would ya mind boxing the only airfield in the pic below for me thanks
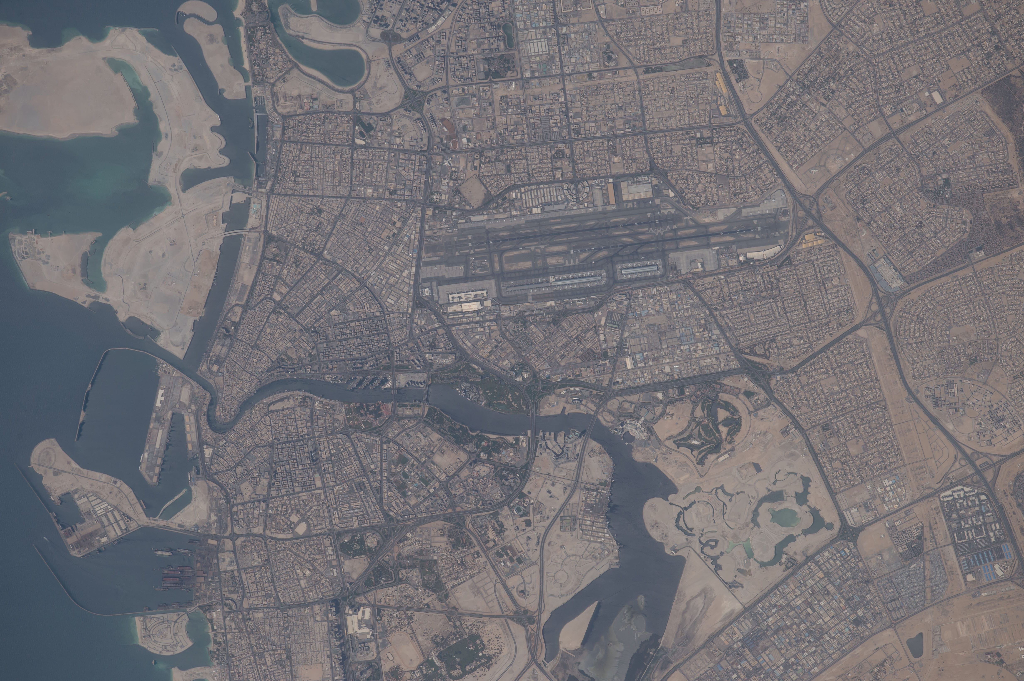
[419,178,790,305]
